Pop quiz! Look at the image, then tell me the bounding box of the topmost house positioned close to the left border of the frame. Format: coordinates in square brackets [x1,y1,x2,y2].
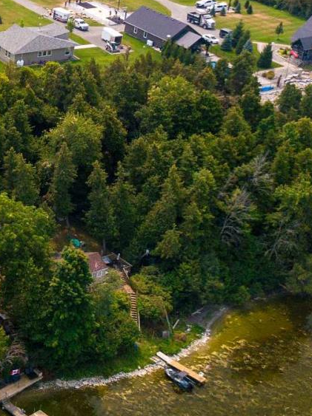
[0,21,77,65]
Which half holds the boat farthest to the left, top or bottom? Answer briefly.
bottom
